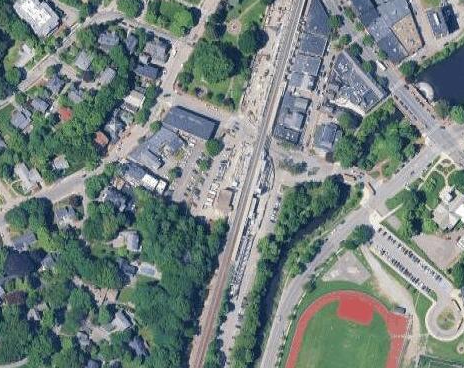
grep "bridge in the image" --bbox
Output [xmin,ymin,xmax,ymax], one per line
[232,0,306,206]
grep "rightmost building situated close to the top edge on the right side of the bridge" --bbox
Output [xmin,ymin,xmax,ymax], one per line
[428,5,451,37]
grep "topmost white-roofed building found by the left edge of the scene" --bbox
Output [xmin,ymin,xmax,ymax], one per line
[14,0,61,37]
